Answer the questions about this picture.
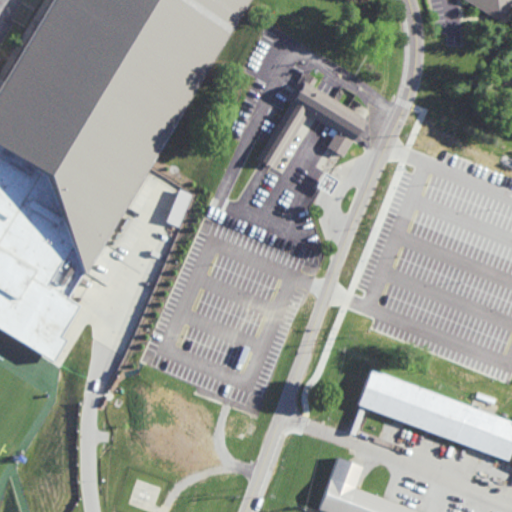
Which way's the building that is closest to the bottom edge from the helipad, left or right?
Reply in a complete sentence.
The building that is closest to the bottom edge can be seen on the right of the helipad.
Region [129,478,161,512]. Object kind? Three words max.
helipad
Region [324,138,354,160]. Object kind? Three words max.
building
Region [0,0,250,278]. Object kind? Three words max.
building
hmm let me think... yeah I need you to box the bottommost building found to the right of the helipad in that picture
[318,458,412,512]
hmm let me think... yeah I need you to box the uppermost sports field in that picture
[0,345,61,479]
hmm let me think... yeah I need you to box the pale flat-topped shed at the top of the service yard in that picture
[166,189,194,231]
